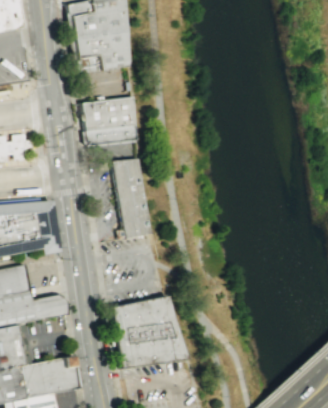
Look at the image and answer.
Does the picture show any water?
Yes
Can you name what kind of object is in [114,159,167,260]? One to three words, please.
building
